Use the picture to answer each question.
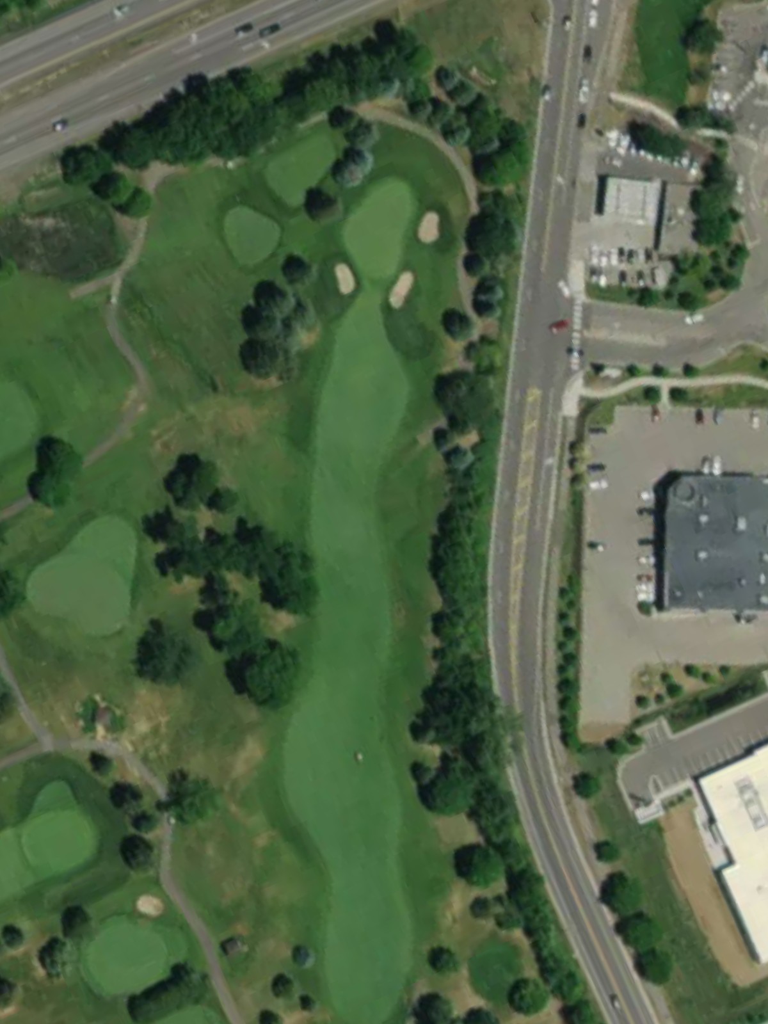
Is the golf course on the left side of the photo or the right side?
left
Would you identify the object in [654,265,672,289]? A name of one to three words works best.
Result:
shed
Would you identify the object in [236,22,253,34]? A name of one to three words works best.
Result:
vehicle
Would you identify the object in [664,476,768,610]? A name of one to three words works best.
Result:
building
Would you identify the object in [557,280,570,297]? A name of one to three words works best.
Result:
vehicle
